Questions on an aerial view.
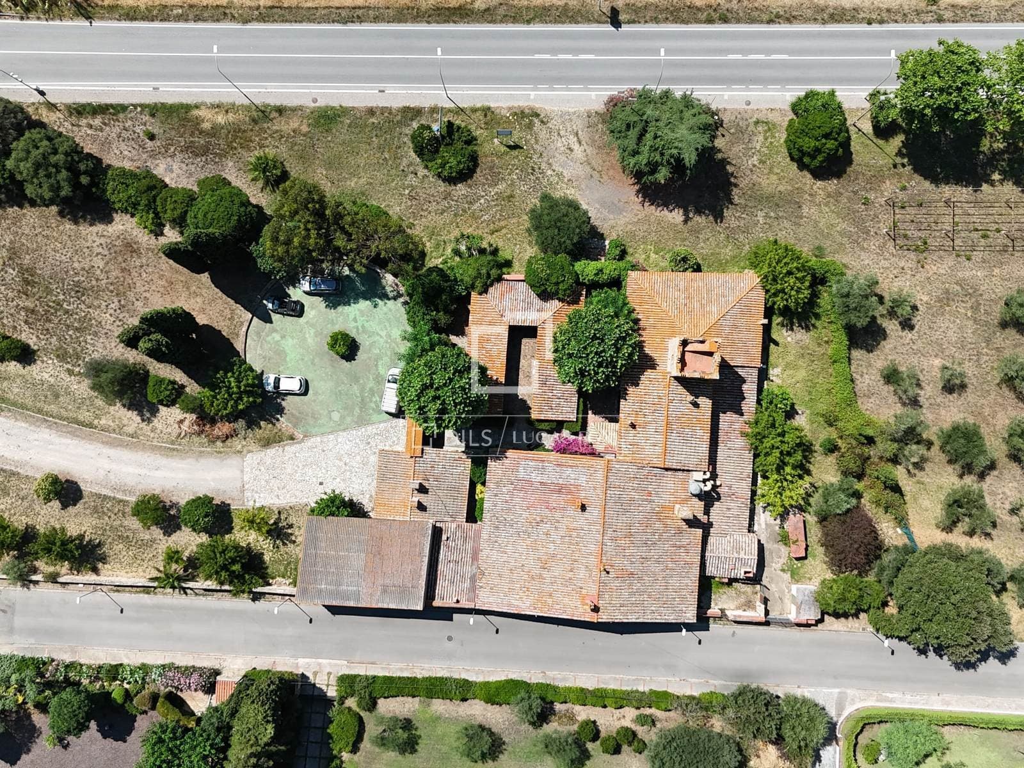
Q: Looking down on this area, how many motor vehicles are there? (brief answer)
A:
4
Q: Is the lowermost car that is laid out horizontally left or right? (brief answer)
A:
left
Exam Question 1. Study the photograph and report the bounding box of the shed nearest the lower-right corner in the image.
[787,580,820,623]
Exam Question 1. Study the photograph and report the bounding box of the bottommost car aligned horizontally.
[264,373,306,394]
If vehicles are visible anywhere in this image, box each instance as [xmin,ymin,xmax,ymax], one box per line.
[264,373,306,394]
[266,295,305,319]
[300,276,340,297]
[379,368,402,415]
